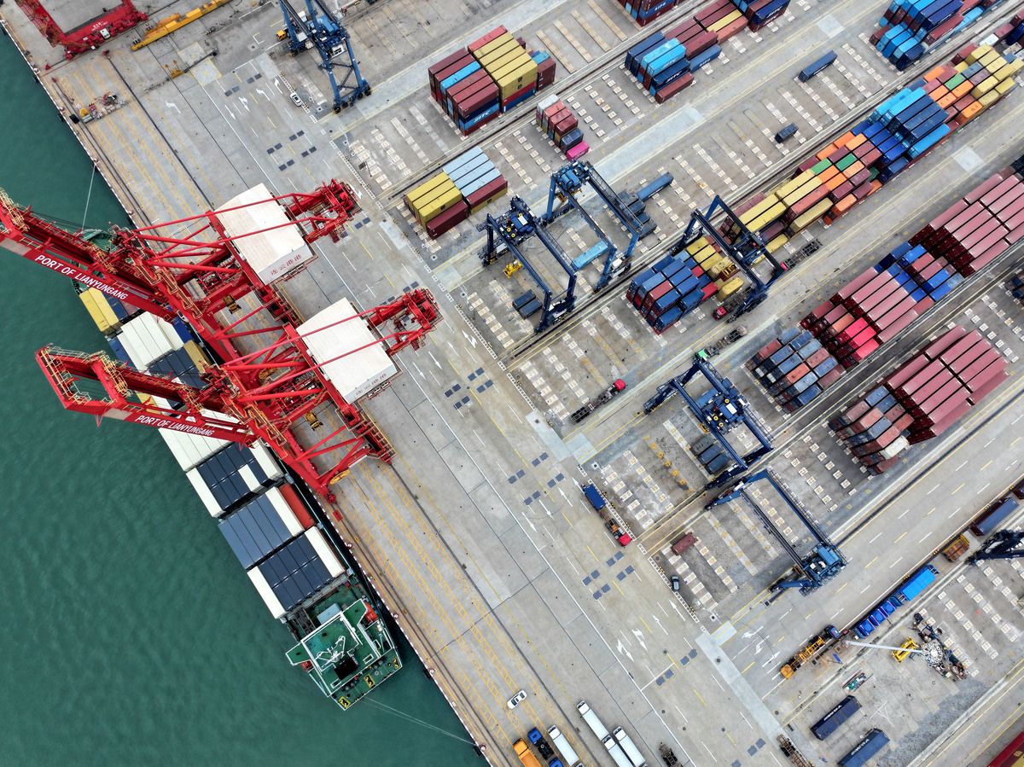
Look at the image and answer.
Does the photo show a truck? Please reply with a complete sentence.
Yes, there's a truck here.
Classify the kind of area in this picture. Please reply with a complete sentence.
It's a port.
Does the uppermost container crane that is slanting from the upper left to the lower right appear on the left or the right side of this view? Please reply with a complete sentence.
The uppermost container crane that is slanting from the upper left to the lower right is on the left side of the image.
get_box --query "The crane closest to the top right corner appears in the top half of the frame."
[671,192,792,324]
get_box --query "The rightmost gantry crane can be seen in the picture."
[966,529,1024,565]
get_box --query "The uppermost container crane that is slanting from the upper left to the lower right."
[274,0,372,113]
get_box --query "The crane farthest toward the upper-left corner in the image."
[10,0,147,61]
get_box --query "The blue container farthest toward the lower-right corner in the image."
[837,727,889,767]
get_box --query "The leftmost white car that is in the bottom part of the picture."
[507,690,527,710]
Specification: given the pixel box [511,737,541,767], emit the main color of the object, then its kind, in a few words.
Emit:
orange truck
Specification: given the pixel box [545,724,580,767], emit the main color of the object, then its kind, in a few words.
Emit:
white truck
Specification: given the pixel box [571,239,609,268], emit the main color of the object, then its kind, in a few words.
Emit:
blue shipping container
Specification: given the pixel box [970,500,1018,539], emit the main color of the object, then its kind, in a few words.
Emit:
blue shipping container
